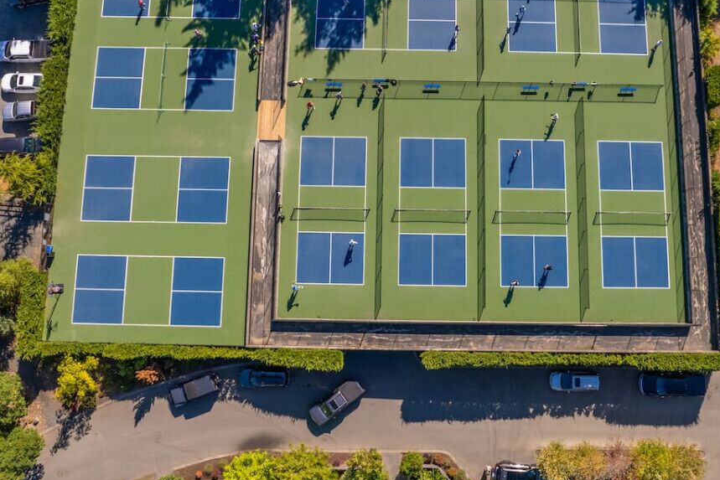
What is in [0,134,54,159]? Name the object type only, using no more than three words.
truck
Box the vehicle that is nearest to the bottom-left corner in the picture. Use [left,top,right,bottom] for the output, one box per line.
[165,372,222,410]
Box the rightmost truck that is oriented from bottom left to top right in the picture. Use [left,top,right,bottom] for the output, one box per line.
[305,377,369,428]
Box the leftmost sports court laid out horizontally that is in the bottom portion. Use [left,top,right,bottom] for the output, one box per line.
[71,255,225,325]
